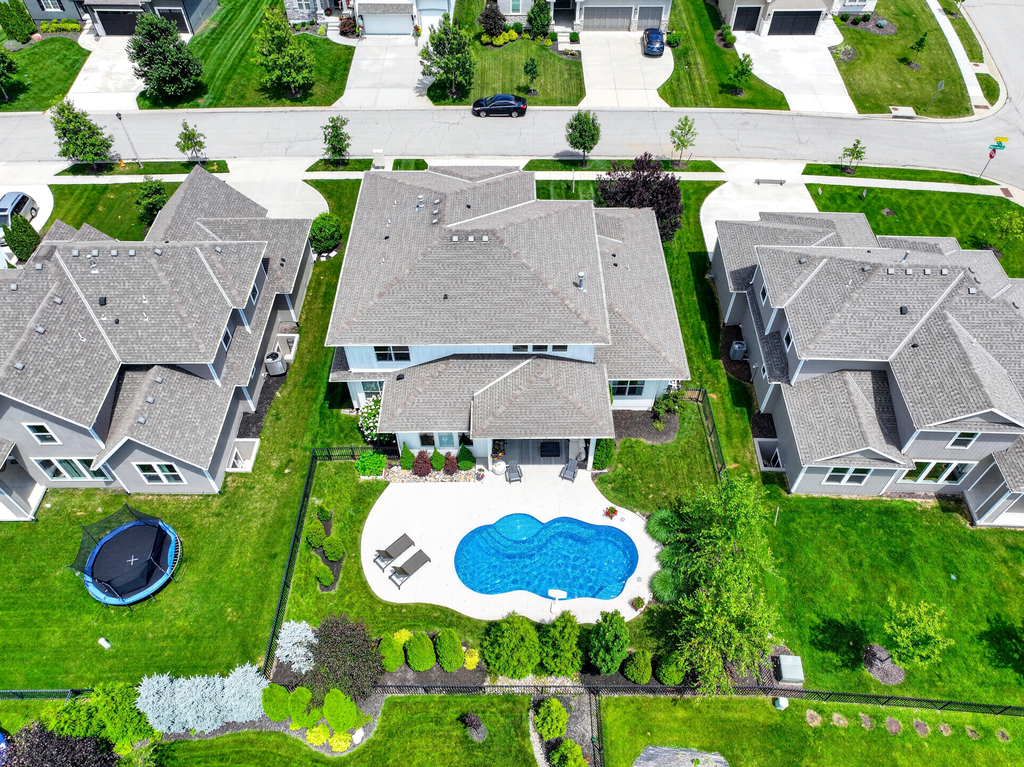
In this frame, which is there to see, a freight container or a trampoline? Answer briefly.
trampoline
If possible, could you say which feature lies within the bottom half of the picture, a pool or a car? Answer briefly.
pool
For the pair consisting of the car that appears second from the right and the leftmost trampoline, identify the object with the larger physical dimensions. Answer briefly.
the trampoline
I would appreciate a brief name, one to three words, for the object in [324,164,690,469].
house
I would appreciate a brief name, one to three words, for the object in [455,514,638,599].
swimming pool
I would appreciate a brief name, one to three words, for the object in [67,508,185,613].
trampoline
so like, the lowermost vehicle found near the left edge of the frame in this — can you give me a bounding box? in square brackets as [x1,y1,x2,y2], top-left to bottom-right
[0,188,40,240]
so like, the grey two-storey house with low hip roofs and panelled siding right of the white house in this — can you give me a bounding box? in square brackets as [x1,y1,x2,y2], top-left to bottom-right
[712,212,1024,532]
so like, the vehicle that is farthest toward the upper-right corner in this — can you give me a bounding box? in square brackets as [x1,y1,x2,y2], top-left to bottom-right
[643,27,668,57]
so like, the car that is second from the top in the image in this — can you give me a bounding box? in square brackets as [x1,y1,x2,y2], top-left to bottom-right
[469,91,524,116]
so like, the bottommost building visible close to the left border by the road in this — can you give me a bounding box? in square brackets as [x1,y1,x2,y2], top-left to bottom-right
[0,164,314,528]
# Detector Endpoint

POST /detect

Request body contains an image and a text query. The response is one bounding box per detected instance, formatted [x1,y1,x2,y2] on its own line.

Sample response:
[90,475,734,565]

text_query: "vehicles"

[0,188,40,240]
[469,91,524,116]
[643,27,668,57]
